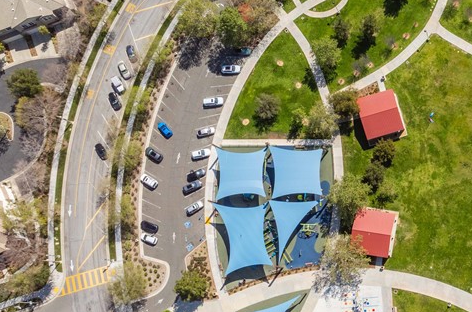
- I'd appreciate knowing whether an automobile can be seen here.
Yes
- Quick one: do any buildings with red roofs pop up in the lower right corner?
Yes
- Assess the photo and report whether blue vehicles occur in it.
Yes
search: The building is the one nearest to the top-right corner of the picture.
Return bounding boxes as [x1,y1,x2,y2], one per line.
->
[357,87,410,140]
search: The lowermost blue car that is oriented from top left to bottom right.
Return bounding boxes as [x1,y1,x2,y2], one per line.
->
[158,122,174,139]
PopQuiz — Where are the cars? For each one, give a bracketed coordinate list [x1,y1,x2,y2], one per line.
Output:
[118,61,132,80]
[94,142,108,162]
[184,201,204,215]
[110,76,126,95]
[140,234,161,245]
[222,64,242,74]
[188,169,208,179]
[125,44,138,64]
[146,147,164,163]
[203,97,224,107]
[108,92,122,111]
[191,149,211,159]
[140,221,161,233]
[237,47,254,56]
[197,128,217,137]
[158,122,174,139]
[183,182,203,194]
